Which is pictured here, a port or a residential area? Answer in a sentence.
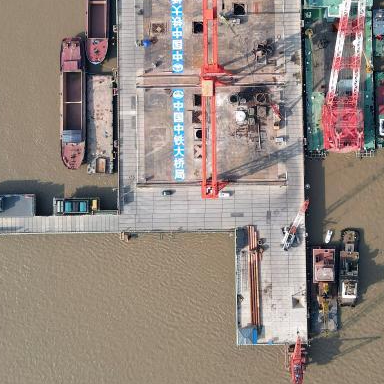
What you see here is a port.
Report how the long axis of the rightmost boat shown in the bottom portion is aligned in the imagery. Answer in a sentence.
In this picture, the rightmost boat shown in the bottom portion lies from top to bottom.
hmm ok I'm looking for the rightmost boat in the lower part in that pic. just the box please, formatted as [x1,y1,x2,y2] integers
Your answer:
[340,228,360,308]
